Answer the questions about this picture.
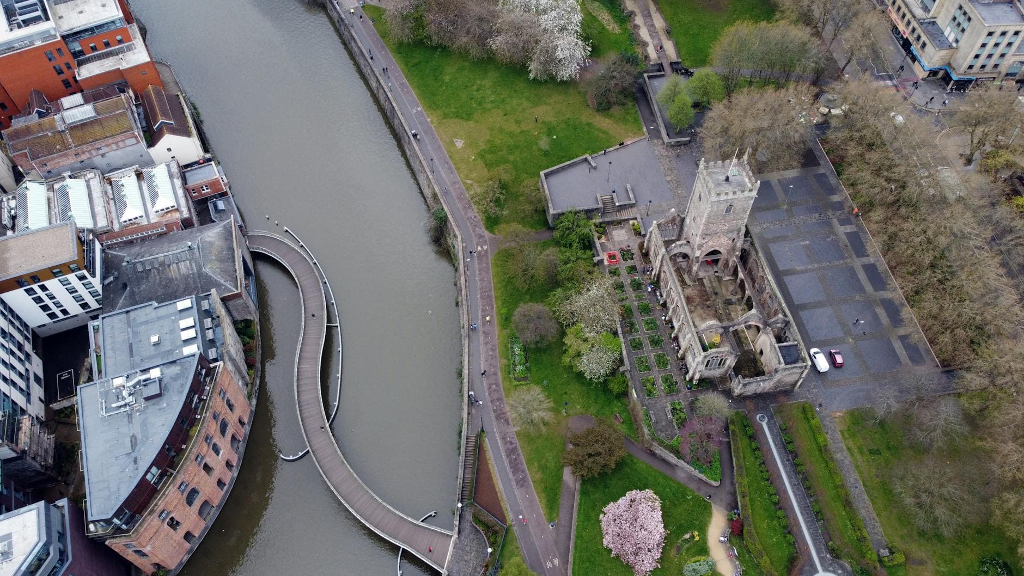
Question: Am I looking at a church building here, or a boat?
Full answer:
This aerial view contains a church building.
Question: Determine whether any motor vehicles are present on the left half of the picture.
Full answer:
No, I can find no motor vehicle on the left half of the picture.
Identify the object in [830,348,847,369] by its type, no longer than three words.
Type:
car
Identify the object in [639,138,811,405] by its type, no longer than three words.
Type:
church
